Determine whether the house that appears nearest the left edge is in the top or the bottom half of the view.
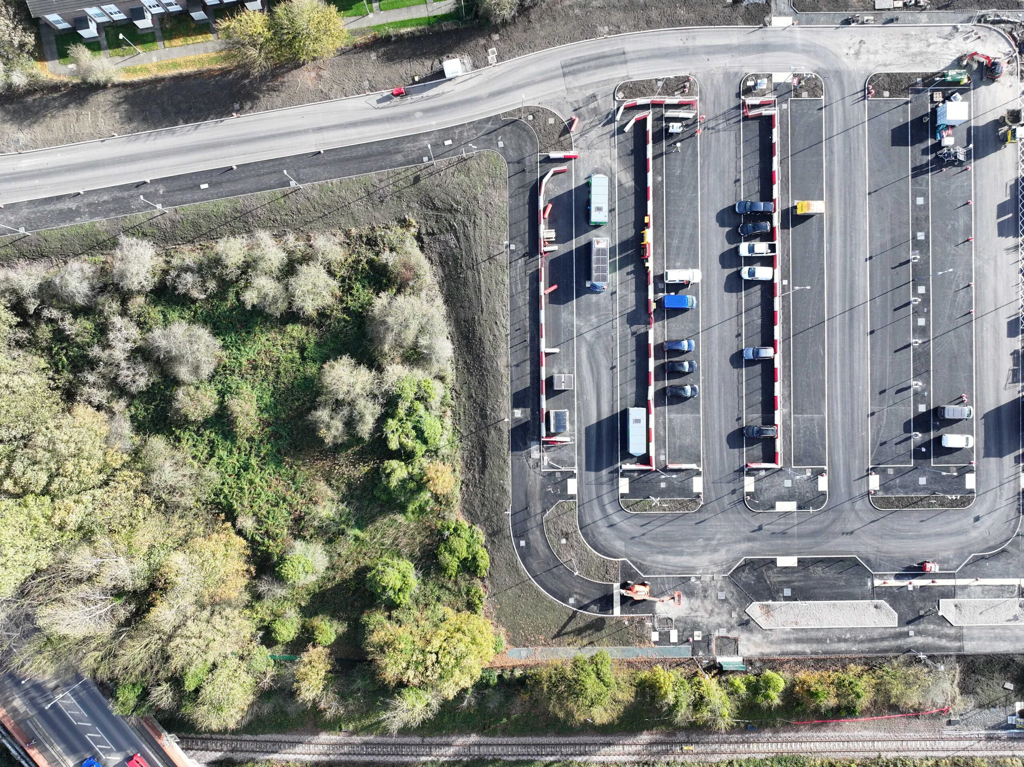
top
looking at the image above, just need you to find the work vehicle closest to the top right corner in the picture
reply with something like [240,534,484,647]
[959,51,1012,79]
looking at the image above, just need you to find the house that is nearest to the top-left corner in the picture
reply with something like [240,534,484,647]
[27,0,115,45]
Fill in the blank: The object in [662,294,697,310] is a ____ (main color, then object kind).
blue vehicle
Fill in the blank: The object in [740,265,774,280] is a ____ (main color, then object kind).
white vehicle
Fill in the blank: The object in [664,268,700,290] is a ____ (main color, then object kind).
white car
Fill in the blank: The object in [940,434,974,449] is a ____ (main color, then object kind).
white vehicle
